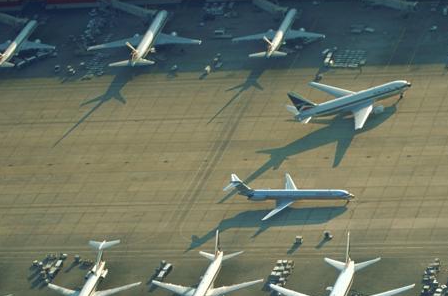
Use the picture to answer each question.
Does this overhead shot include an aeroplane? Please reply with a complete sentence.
Yes, the picture does show an aeroplane.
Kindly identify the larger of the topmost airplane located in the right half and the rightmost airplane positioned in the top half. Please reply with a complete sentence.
Compared with the topmost airplane located in the right half, the rightmost airplane positioned in the top half is the bigger one.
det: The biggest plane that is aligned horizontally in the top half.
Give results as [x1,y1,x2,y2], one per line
[282,80,410,126]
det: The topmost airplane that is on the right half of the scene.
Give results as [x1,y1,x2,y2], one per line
[233,8,325,56]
